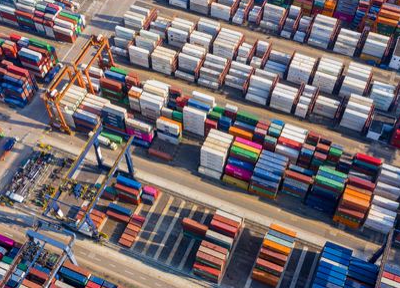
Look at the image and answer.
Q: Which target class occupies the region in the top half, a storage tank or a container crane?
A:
container crane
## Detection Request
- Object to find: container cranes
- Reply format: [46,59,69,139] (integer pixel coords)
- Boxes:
[0,220,82,288]
[366,227,400,288]
[69,34,115,87]
[40,66,90,128]
[43,127,137,239]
